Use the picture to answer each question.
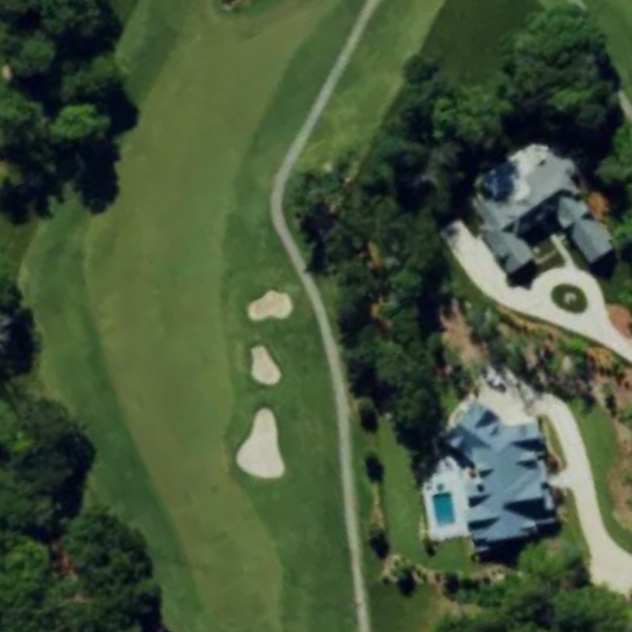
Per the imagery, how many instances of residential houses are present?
2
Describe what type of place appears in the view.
golf course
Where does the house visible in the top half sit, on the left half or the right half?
right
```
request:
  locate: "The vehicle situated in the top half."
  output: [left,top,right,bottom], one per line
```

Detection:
[442,227,459,240]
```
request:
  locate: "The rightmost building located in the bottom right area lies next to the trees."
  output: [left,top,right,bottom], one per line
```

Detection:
[442,397,562,553]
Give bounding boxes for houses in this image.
[467,147,619,270]
[442,397,562,553]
